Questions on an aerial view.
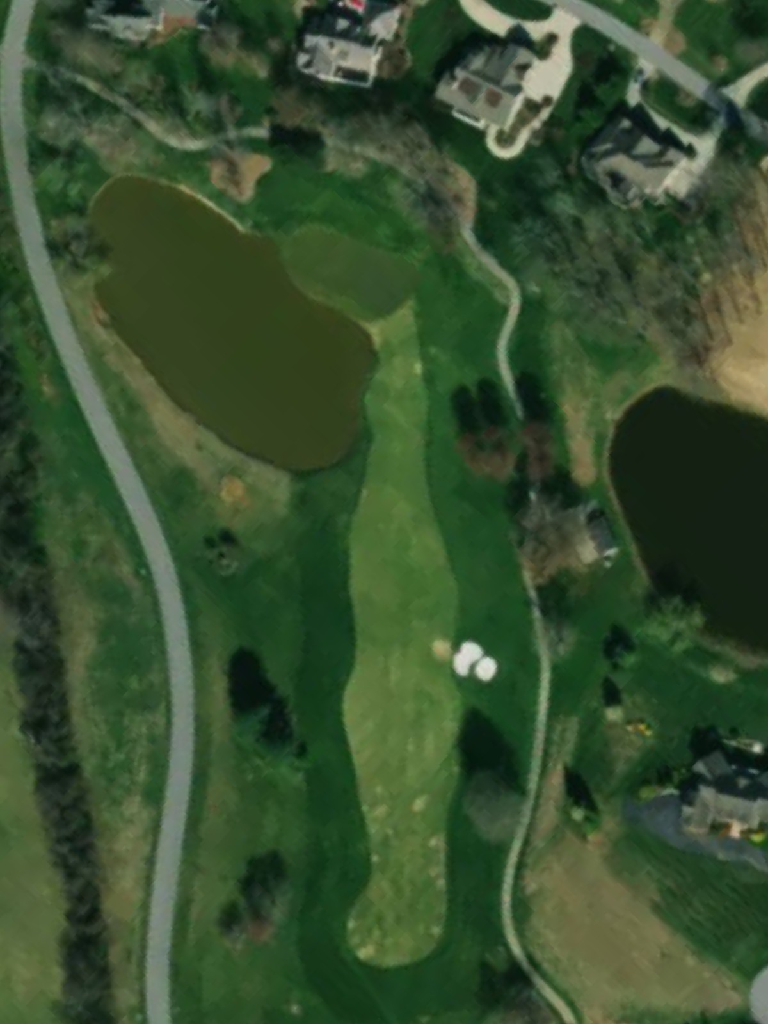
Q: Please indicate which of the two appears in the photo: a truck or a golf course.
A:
golf course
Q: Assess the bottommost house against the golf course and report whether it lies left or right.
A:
to the right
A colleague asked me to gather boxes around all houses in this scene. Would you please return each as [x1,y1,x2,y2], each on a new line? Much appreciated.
[682,750,768,837]
[431,26,546,129]
[583,107,693,200]
[78,0,214,40]
[295,0,410,85]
